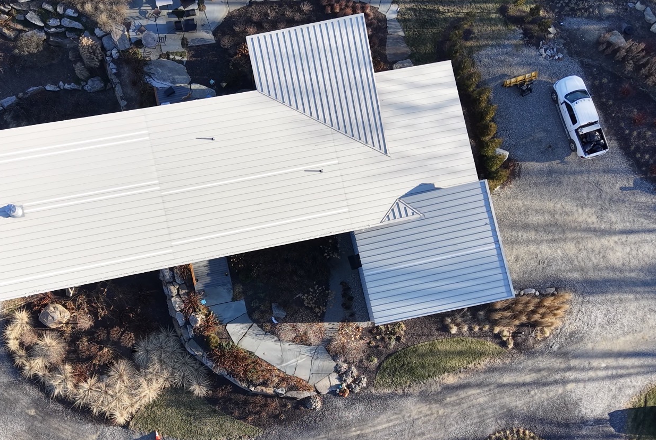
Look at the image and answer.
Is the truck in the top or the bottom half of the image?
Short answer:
top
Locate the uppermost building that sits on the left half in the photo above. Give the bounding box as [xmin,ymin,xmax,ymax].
[0,12,477,302]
